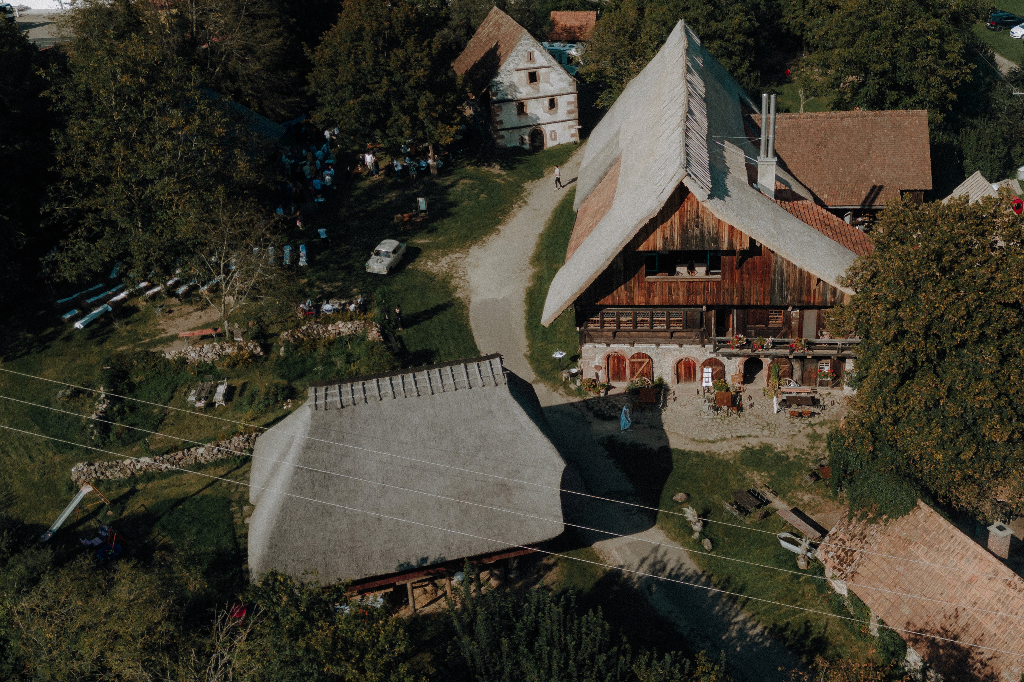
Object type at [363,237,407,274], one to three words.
car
